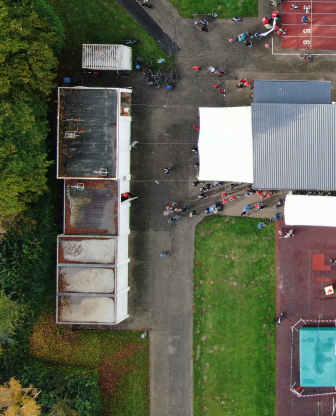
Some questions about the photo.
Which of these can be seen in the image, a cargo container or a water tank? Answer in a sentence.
There is a cargo container in the scene.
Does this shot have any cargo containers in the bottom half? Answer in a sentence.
No, I see no cargo container in the bottom half.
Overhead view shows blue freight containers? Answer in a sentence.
No, there is no blue freight container in the image.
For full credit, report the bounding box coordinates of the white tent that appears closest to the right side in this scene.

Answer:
[283,194,336,226]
